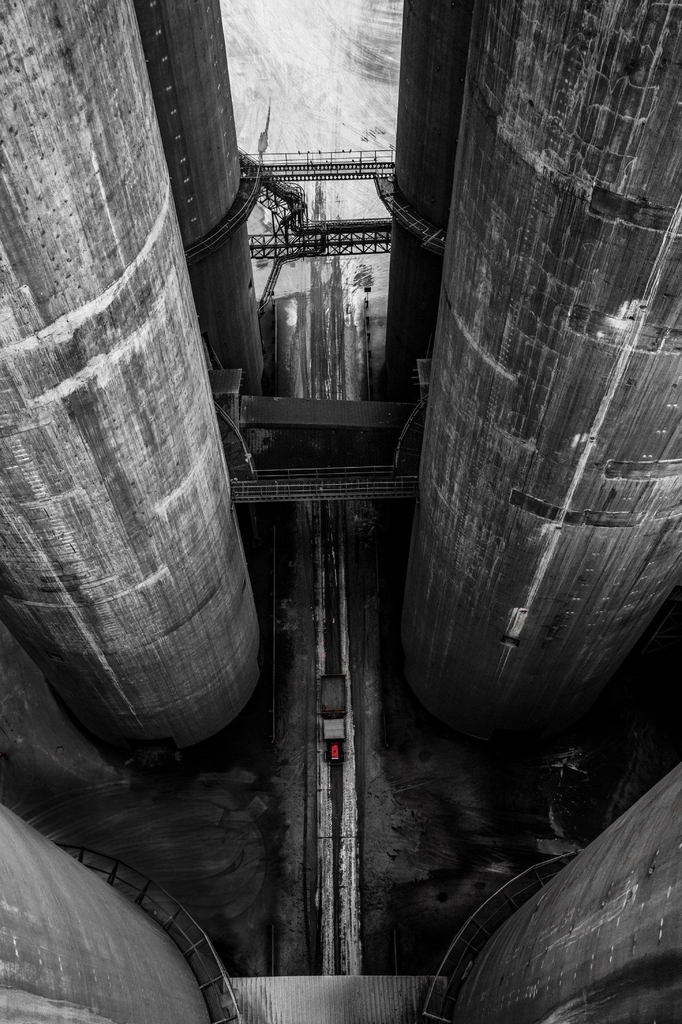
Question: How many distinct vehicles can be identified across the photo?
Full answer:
Only 1 vehicle is visible.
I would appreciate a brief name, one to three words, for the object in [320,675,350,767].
truck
